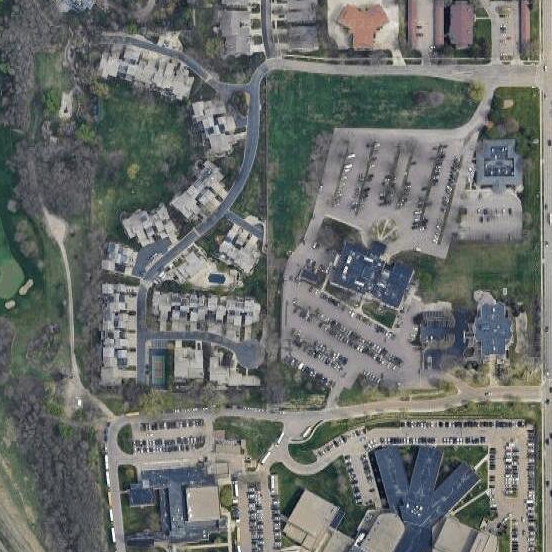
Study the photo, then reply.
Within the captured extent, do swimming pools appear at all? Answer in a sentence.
Yes, there's a swimming pool here.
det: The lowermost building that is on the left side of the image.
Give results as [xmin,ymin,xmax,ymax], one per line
[128,463,230,547]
